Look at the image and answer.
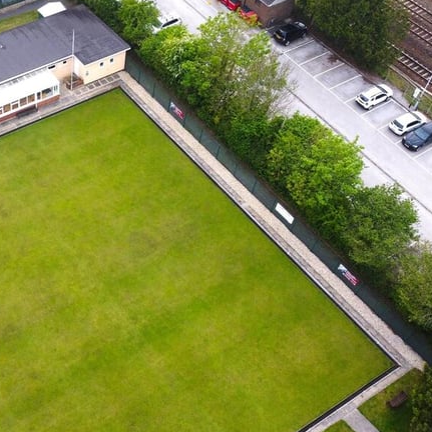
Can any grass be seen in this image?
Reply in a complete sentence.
Yes, there is grass in the image.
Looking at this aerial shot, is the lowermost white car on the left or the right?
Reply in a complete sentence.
The lowermost white car sits on the right side.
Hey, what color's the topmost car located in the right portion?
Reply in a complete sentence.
The topmost car located in the right portion looks black in the image.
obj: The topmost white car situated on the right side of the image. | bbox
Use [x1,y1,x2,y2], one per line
[356,82,397,109]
